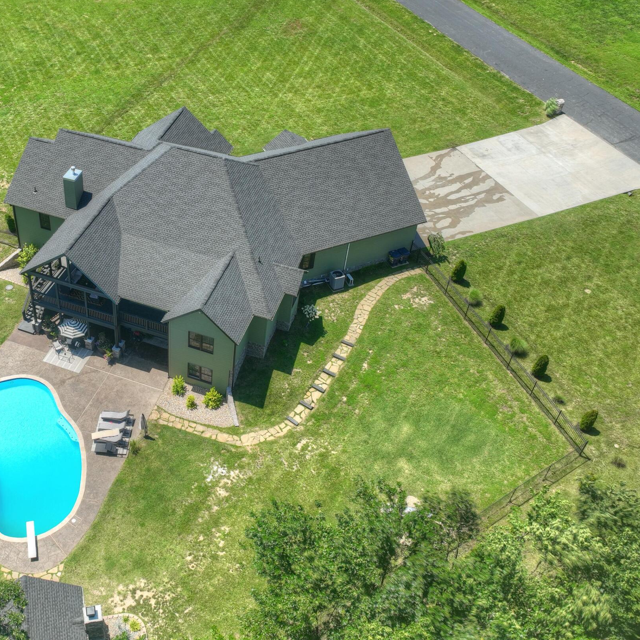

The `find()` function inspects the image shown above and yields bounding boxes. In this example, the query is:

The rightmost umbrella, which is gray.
[139,410,153,442]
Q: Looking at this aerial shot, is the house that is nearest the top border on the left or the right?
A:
left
